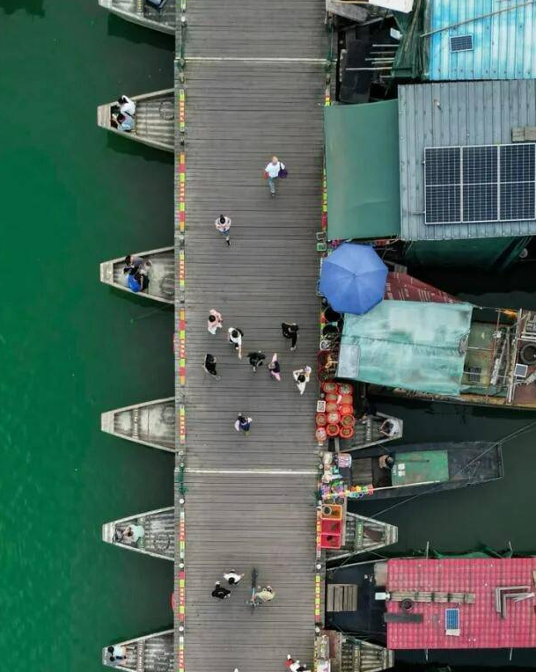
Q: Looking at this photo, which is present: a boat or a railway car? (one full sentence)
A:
There is a boat in the scene.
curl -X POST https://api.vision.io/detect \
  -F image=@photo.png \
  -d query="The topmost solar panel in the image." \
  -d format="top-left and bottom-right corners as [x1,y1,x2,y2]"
[448,34,473,52]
